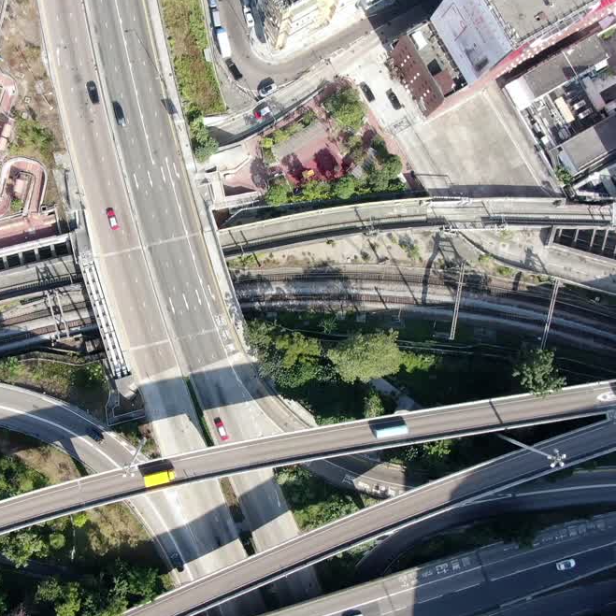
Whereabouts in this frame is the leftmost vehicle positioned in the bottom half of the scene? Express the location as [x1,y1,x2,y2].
[84,425,106,444]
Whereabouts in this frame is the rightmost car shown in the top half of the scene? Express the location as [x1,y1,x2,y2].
[386,86,403,110]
